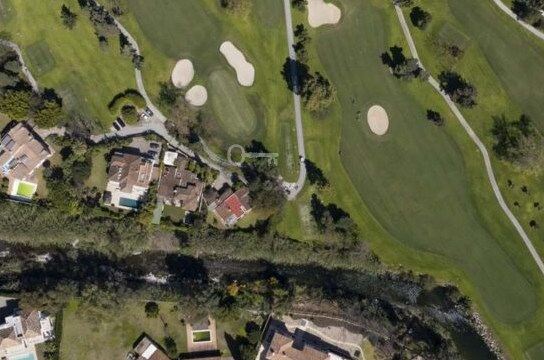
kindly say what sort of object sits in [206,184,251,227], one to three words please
house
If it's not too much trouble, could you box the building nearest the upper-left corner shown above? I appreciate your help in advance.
[0,122,52,199]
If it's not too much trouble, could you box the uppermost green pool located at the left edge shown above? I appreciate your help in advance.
[15,181,36,198]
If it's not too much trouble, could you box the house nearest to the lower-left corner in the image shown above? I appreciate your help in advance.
[0,308,57,360]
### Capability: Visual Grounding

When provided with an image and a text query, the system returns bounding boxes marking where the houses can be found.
[263,316,346,360]
[103,152,156,210]
[0,308,57,360]
[0,122,52,199]
[126,334,236,360]
[152,151,202,213]
[206,184,251,227]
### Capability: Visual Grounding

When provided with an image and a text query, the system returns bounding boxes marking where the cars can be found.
[144,107,153,116]
[112,121,120,131]
[116,117,124,127]
[147,150,157,155]
[139,111,148,120]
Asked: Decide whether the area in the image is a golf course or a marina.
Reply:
golf course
